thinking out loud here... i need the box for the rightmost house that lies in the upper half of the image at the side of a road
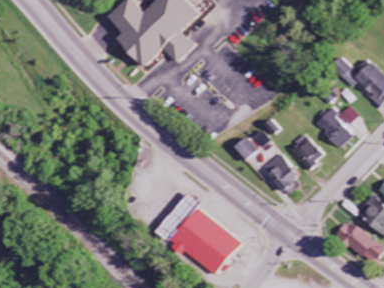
[353,60,384,104]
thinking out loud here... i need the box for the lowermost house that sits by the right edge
[340,222,384,260]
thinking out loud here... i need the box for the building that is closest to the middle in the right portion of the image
[236,135,259,158]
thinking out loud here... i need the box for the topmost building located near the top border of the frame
[108,0,220,67]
